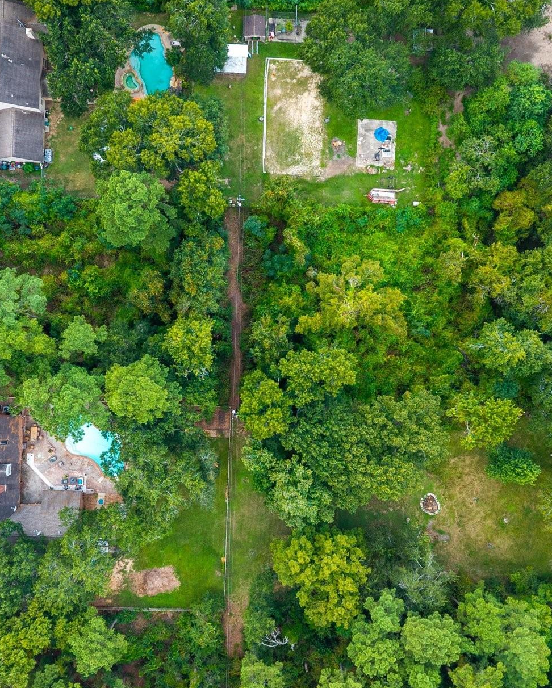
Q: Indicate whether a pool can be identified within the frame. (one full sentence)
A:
Yes, there is a pool in the image.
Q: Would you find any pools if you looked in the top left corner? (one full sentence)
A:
Yes, in the top left corner there is a pool.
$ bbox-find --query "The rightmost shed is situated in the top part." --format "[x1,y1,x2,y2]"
[243,15,266,61]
